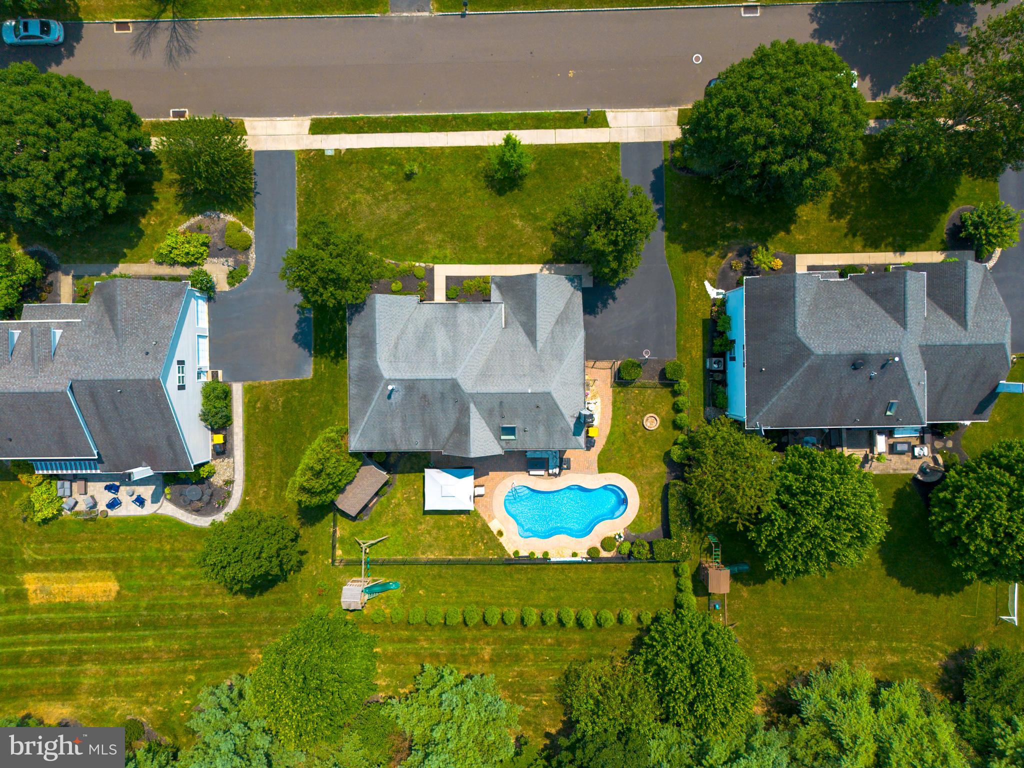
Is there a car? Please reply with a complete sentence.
Yes, there is a car in the image.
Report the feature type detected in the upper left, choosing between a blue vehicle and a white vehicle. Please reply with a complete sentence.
Visible in the upper left is a blue vehicle.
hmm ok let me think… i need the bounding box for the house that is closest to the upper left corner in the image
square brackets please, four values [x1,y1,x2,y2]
[0,274,221,485]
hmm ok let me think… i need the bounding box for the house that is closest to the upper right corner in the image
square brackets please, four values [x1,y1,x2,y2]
[724,257,1024,429]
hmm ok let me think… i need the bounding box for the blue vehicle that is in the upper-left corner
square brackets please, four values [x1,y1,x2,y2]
[4,16,66,50]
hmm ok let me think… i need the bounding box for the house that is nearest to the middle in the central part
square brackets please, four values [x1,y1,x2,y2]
[346,270,595,457]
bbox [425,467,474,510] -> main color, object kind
white gazebo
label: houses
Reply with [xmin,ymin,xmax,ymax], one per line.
[0,274,221,485]
[346,270,595,457]
[724,257,1024,429]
